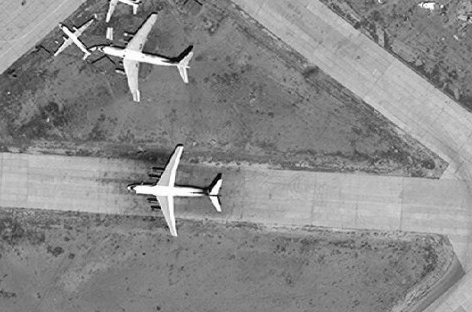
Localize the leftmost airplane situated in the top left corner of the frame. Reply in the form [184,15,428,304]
[51,17,94,59]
